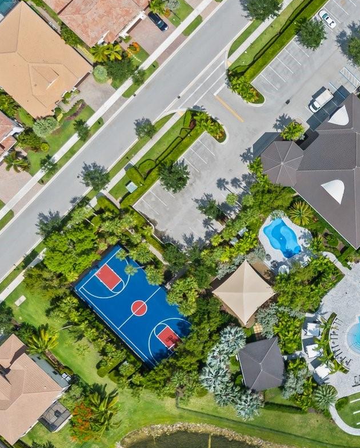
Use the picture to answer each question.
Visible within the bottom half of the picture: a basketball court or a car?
basketball court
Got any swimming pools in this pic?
Yes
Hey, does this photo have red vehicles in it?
No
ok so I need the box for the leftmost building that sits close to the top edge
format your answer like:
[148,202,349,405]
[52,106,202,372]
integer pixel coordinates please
[0,0,94,121]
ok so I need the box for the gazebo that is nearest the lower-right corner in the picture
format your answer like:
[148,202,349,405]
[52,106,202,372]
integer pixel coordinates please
[238,337,286,392]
